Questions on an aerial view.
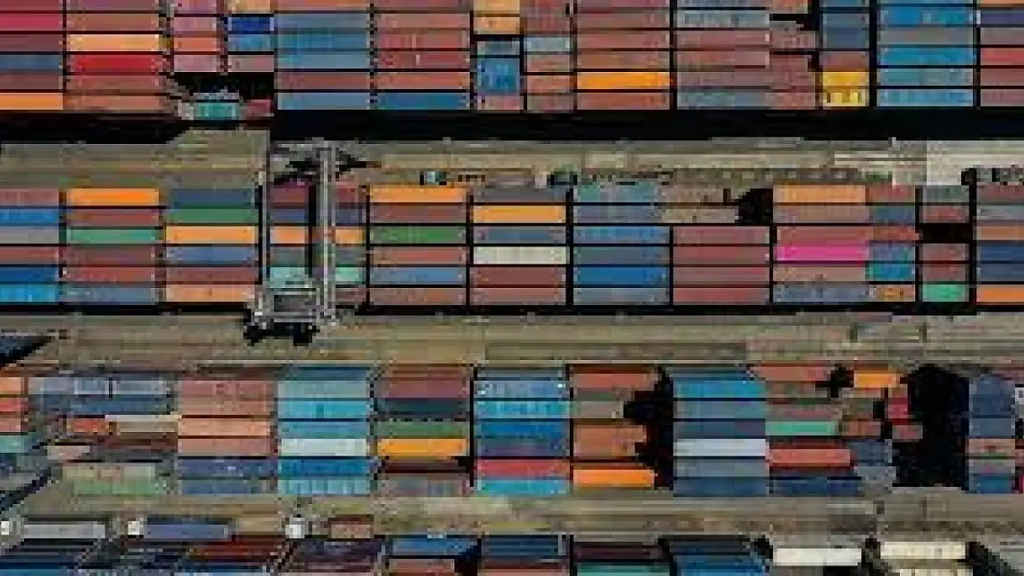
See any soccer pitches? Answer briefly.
No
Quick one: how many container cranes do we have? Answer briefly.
1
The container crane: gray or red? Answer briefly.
gray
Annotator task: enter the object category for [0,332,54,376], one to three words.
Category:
shipping container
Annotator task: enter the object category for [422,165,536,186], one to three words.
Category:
truck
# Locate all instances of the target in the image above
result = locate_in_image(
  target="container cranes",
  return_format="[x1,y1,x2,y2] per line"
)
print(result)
[249,137,373,331]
